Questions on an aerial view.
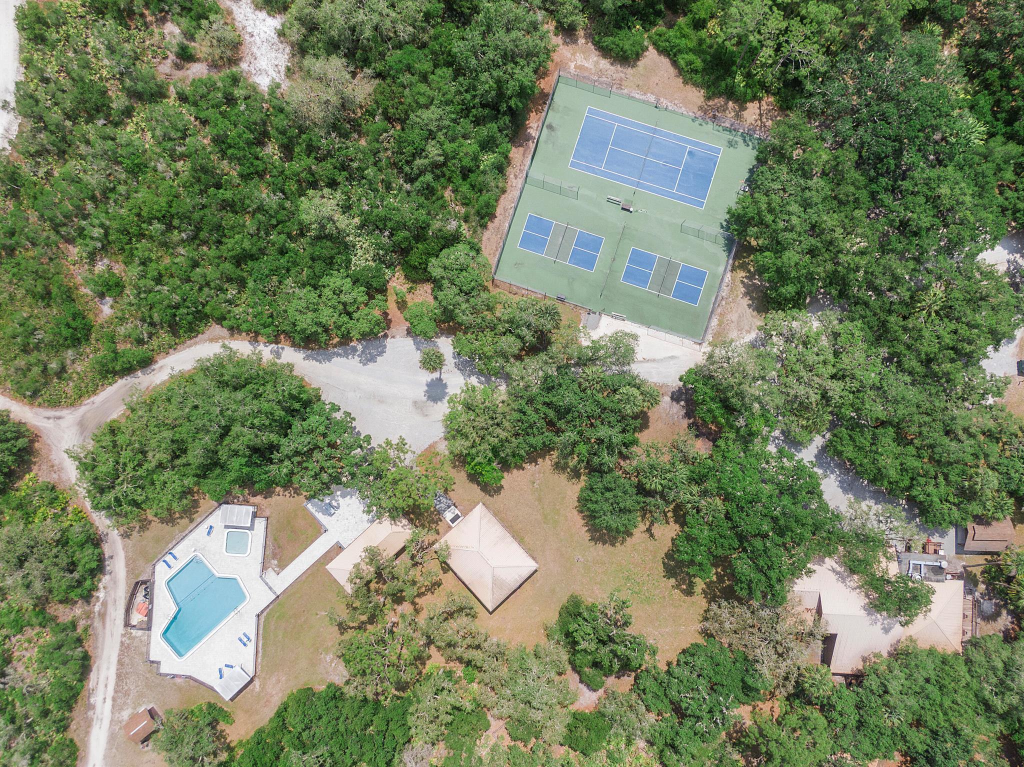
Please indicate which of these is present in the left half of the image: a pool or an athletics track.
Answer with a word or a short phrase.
pool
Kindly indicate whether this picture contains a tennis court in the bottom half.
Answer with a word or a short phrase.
No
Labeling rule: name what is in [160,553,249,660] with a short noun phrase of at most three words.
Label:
swimming pool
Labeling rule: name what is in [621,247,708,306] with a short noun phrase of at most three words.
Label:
sports court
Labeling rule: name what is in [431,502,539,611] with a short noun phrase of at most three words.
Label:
building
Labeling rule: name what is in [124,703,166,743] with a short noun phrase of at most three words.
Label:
shed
